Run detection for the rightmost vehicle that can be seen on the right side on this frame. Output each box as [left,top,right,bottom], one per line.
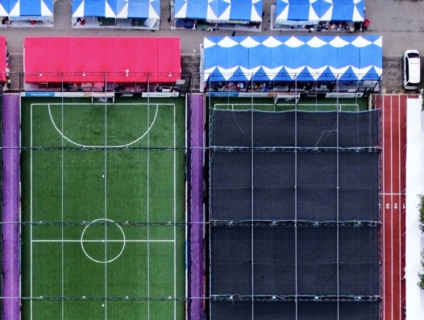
[403,53,422,89]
